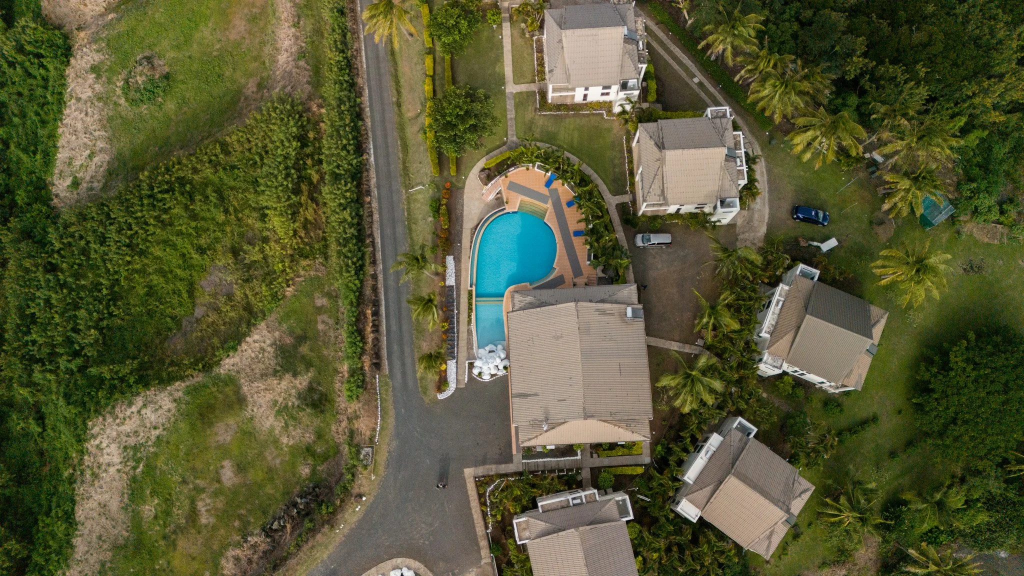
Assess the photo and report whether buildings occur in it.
Yes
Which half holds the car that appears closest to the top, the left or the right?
right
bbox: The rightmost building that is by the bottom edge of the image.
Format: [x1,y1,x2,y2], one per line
[671,417,815,559]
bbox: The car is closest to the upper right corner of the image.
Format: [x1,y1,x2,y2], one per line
[792,205,830,227]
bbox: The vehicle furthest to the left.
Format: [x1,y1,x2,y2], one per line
[635,231,672,248]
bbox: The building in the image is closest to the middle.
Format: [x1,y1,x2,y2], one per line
[508,284,654,449]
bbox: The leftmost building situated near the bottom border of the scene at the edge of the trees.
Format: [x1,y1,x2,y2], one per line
[513,486,643,576]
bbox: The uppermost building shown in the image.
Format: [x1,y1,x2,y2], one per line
[544,0,648,108]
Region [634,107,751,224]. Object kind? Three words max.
house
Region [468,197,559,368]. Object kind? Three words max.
swimming pool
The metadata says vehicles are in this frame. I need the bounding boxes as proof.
[635,231,672,248]
[792,205,830,227]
